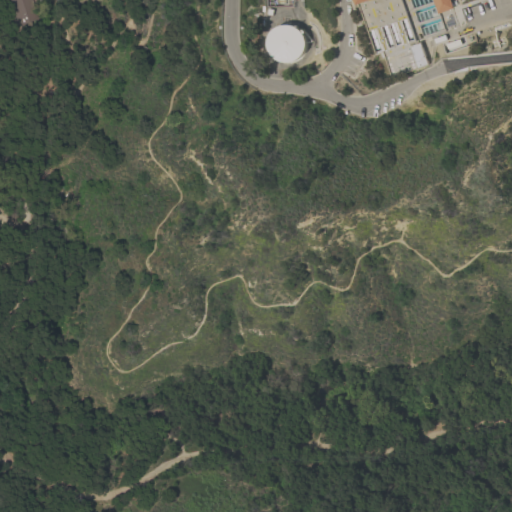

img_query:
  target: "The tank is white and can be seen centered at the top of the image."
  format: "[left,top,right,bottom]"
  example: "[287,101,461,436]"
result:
[264,24,314,65]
